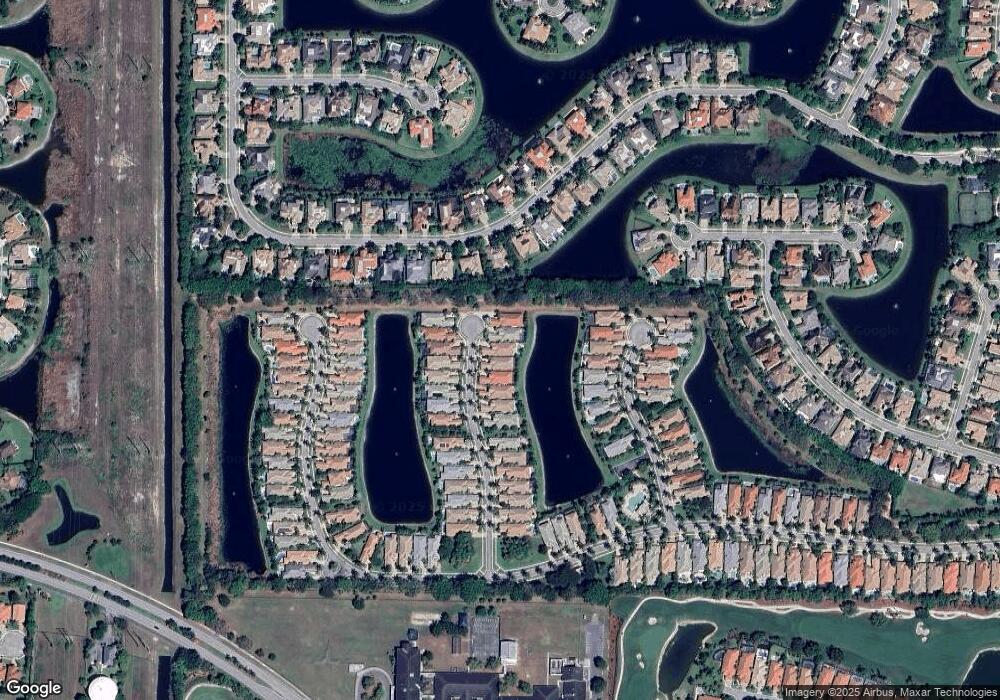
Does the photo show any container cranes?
No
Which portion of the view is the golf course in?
bottom right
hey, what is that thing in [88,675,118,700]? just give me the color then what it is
white water tank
